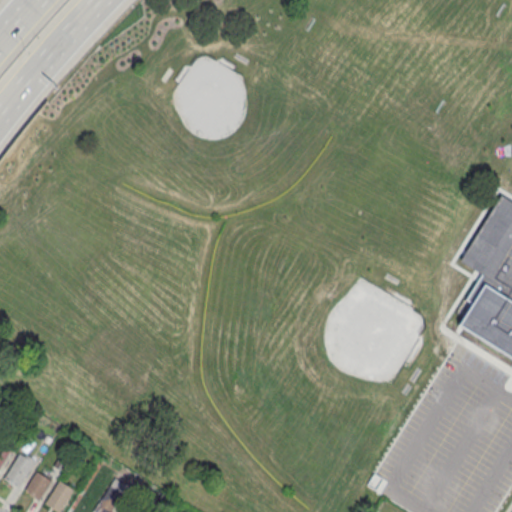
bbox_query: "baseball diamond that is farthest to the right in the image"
[326,276,422,383]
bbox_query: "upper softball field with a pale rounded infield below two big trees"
[175,56,248,140]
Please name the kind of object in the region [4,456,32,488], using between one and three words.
house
